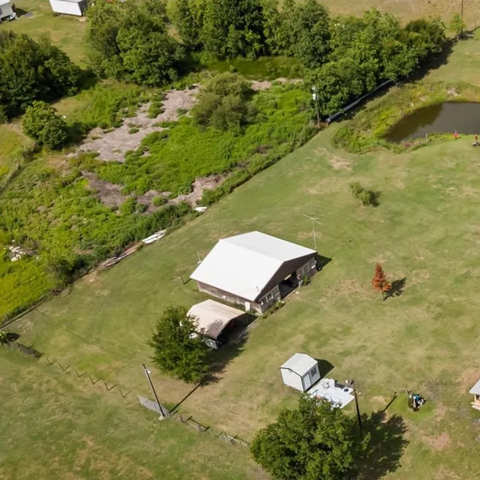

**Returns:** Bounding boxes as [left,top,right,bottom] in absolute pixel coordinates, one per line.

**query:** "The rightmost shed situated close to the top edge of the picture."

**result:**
[54,1,95,24]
